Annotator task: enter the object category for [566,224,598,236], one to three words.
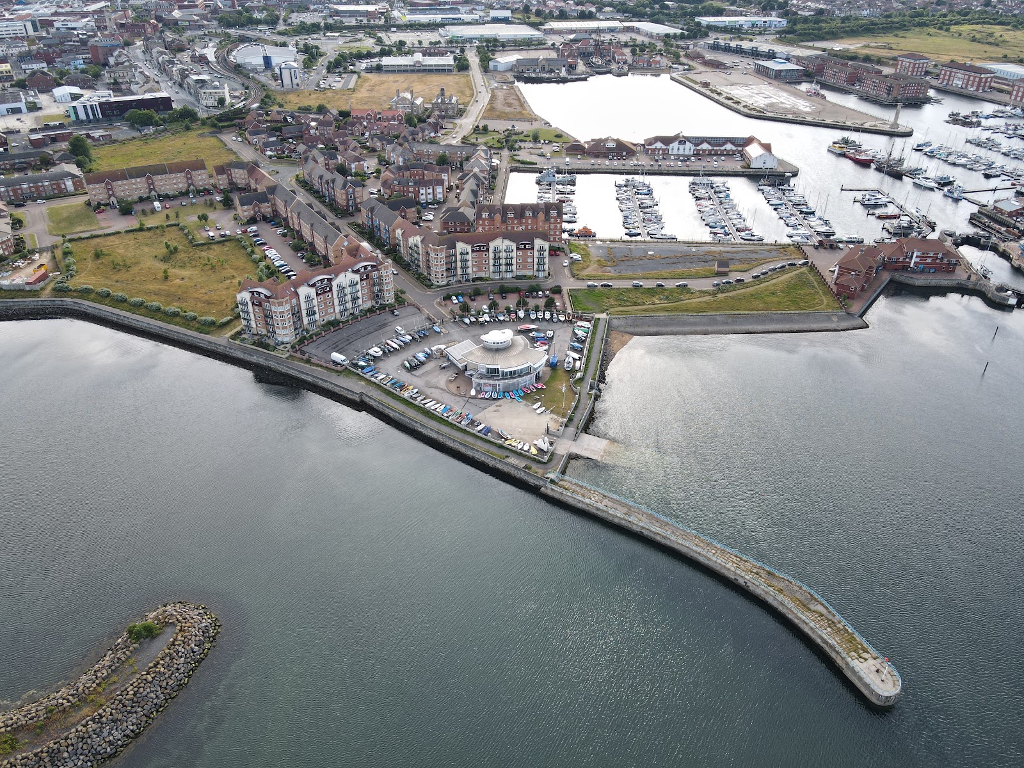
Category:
boat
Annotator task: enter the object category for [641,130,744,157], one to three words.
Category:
building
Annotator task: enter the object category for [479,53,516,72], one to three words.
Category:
shed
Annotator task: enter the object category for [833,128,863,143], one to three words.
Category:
boat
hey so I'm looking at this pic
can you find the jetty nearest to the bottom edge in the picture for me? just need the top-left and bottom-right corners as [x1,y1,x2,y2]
[540,475,900,709]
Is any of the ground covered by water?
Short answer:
Yes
